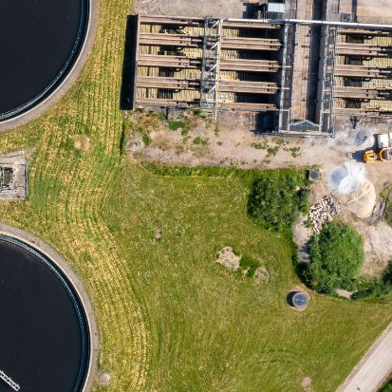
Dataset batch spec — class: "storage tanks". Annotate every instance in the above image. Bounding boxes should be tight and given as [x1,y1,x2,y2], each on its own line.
[0,0,97,131]
[0,220,98,392]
